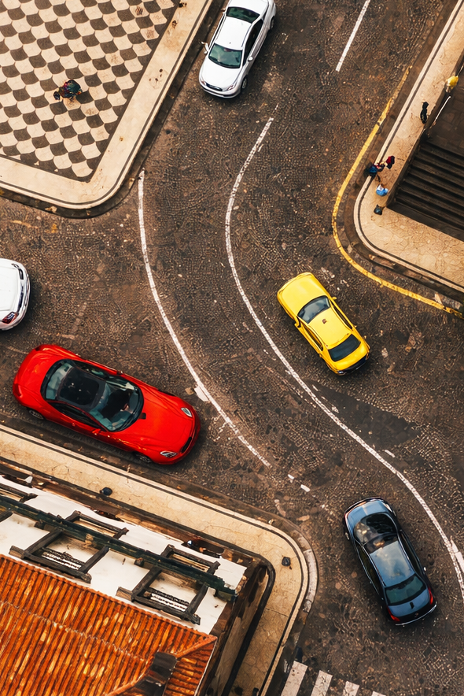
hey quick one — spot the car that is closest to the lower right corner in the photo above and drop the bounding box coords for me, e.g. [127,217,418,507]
[346,493,434,624]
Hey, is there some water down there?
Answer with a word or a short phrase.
No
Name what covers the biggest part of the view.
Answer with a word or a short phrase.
paved ground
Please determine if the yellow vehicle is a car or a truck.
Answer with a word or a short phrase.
car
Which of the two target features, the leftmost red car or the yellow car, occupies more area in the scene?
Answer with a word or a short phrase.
the leftmost red car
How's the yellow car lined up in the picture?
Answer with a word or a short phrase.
at an angle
